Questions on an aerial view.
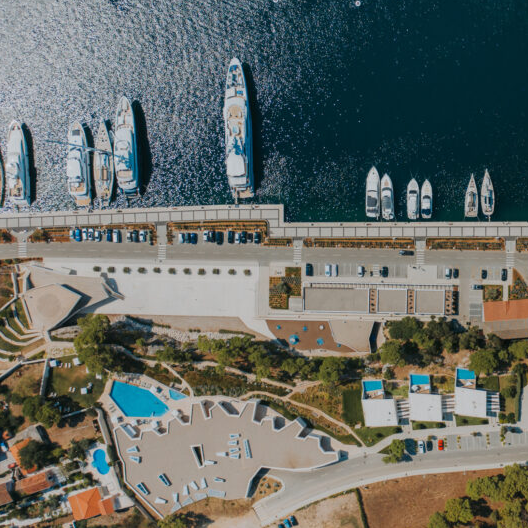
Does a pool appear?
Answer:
Yes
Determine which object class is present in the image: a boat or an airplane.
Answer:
boat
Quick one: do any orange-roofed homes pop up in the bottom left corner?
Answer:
Yes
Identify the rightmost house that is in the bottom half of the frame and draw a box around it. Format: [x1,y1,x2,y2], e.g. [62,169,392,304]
[484,300,528,339]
